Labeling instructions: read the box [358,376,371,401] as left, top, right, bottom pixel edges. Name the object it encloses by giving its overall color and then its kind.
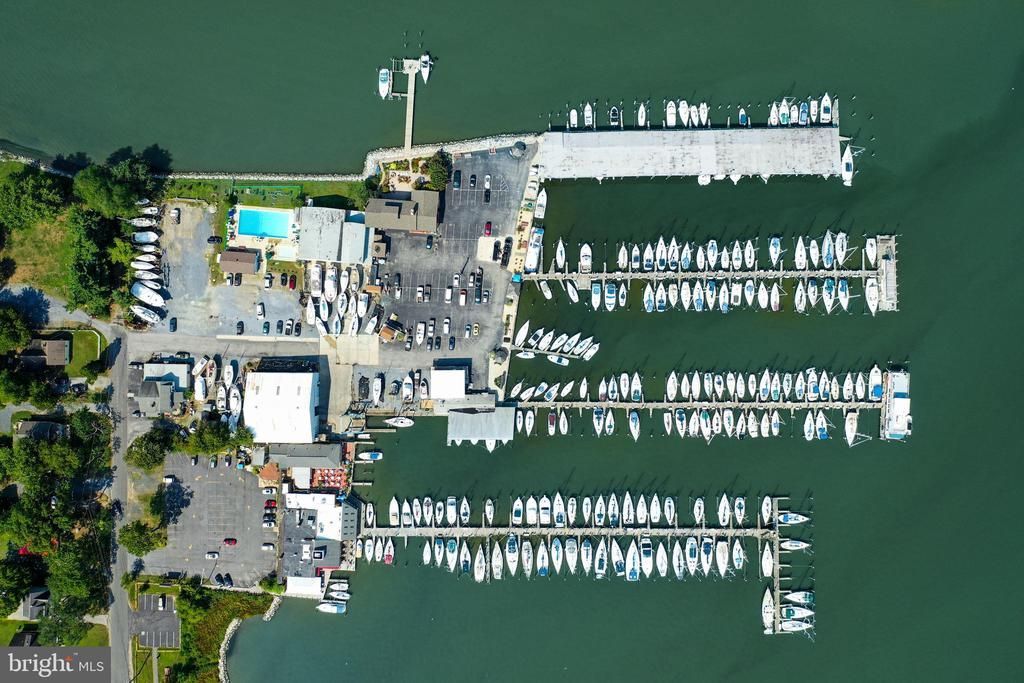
black boat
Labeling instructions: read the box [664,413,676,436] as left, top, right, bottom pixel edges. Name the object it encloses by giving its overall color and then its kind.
white boat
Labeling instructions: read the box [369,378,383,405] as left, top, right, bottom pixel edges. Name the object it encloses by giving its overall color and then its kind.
white boat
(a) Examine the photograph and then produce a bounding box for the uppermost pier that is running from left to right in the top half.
[541,99,852,179]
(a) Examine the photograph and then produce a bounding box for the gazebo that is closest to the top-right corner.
[511,142,524,157]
